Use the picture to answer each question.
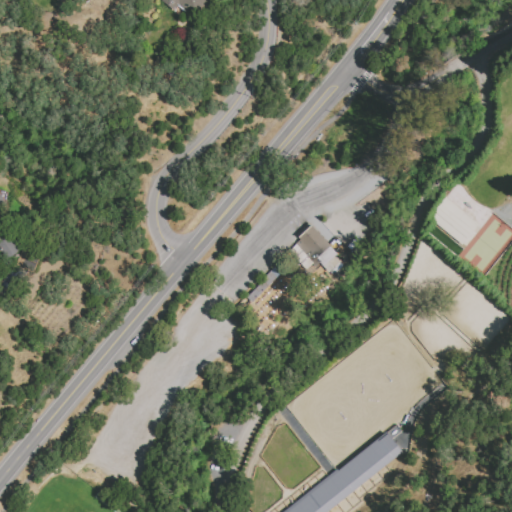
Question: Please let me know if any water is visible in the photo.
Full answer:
No, there is no water in the image.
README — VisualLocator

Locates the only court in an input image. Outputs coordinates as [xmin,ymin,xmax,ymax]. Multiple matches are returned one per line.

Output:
[460,214,512,274]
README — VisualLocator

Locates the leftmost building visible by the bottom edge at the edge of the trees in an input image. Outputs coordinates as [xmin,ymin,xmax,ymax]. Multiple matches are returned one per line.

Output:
[286,426,404,512]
